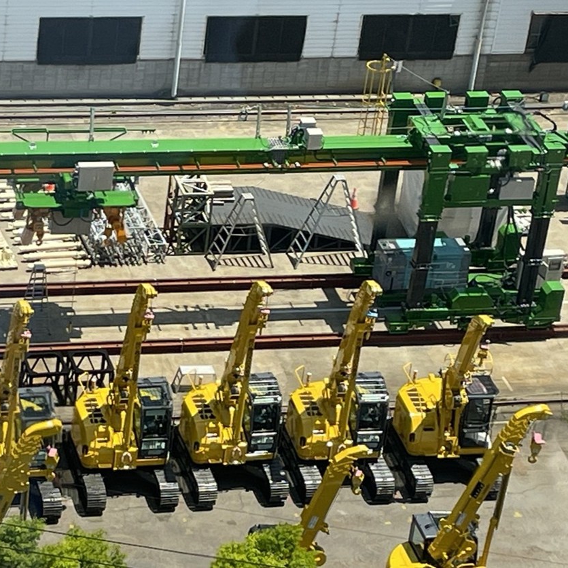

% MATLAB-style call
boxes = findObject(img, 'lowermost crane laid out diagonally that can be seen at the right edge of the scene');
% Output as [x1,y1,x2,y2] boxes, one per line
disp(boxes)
[391,414,556,568]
